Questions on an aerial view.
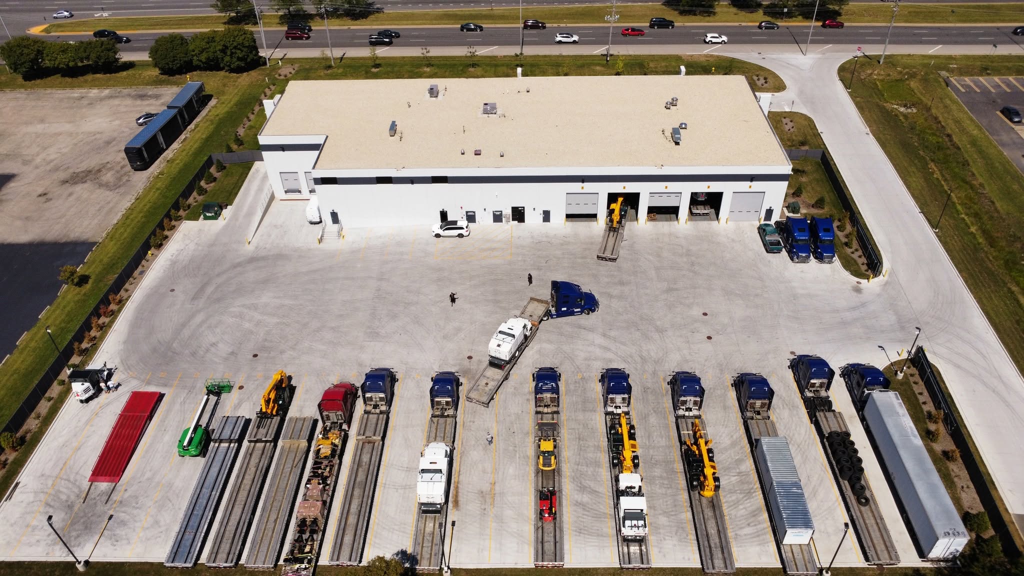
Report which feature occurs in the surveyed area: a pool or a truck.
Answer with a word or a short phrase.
truck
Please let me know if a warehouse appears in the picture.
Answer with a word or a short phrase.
Yes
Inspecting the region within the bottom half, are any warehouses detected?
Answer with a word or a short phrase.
No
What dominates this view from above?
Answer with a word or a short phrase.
paved ground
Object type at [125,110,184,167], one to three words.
trailer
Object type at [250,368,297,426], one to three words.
work vehicle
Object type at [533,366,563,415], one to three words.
truck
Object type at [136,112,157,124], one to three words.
vehicle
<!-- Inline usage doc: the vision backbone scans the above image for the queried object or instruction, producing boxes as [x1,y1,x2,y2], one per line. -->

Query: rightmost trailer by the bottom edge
[865,391,971,564]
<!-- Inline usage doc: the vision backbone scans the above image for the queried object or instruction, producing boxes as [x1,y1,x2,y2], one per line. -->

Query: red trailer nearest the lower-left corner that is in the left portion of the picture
[87,390,162,506]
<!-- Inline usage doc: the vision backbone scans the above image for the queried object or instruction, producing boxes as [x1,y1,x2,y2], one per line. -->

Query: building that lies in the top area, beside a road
[259,75,792,225]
